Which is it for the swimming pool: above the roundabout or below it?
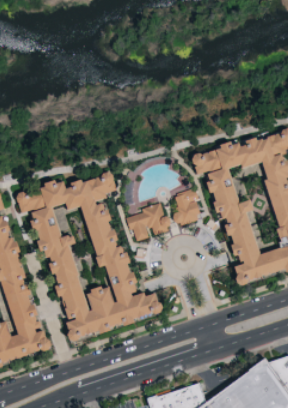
above it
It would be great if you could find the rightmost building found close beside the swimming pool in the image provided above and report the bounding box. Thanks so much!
[190,129,288,285]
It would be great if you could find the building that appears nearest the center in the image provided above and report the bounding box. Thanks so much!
[126,203,172,240]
